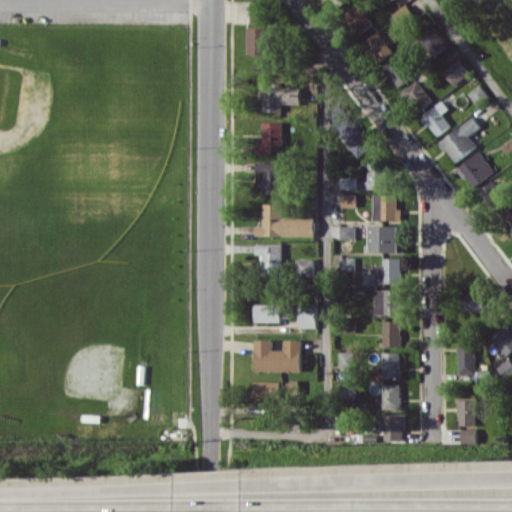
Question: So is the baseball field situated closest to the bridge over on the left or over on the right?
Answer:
left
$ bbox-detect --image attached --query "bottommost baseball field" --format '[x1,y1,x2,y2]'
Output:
[0,262,137,416]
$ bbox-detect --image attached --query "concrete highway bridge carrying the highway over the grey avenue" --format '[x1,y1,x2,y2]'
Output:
[172,470,240,512]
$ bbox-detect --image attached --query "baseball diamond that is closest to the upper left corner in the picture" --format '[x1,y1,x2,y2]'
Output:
[0,26,180,288]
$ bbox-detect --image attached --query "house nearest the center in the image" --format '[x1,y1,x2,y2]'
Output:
[254,244,282,271]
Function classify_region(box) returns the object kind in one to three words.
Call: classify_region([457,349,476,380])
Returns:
house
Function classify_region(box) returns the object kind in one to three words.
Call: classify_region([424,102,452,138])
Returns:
house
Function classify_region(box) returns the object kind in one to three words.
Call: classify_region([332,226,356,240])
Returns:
building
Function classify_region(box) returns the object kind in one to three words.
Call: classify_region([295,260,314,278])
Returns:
building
